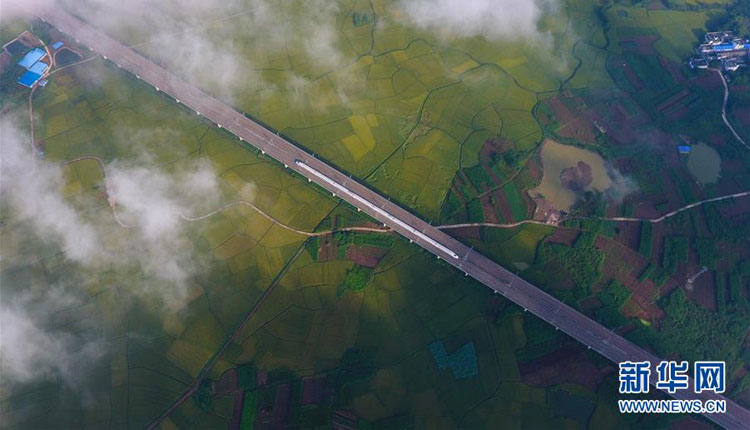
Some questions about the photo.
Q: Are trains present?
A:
Yes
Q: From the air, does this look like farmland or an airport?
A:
farmland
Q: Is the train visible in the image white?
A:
Yes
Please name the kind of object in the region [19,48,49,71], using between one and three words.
shed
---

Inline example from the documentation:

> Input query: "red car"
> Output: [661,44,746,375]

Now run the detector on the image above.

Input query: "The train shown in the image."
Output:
[297,161,460,259]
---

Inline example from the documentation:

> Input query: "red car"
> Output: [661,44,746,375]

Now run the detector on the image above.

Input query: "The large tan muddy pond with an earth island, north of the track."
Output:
[532,141,609,210]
